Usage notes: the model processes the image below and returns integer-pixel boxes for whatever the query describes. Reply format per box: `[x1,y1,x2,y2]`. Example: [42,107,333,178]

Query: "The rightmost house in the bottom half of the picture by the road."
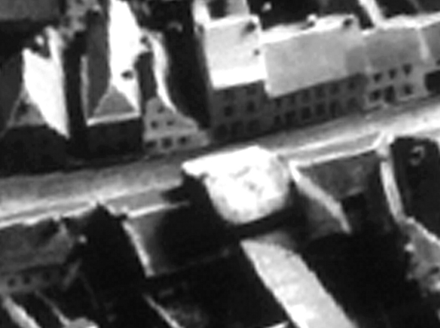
[385,139,440,261]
